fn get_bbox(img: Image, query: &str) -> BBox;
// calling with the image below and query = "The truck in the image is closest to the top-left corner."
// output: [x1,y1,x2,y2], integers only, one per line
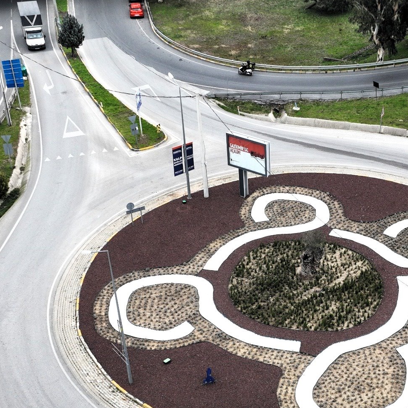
[19,2,45,48]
